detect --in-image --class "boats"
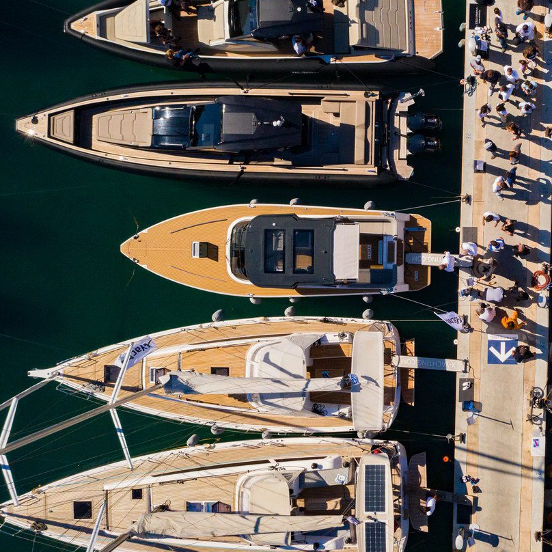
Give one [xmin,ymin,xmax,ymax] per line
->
[121,203,432,298]
[59,0,444,75]
[0,432,429,552]
[11,78,441,186]
[0,315,415,506]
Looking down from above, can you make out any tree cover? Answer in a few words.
No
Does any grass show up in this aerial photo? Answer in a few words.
No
